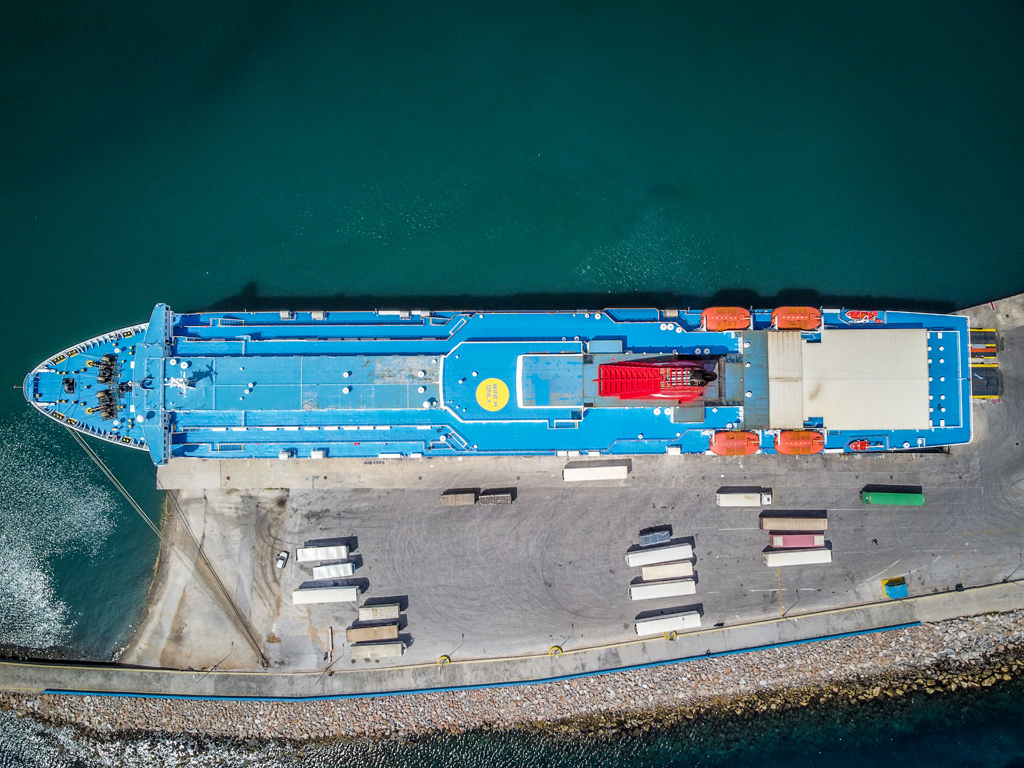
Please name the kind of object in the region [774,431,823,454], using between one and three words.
boat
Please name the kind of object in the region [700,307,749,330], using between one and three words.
boat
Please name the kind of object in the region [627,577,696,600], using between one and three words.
trailer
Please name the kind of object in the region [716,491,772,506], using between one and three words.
vehicle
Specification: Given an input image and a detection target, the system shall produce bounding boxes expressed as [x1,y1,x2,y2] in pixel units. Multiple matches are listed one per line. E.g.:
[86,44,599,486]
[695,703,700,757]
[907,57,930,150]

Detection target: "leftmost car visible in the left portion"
[276,551,288,569]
